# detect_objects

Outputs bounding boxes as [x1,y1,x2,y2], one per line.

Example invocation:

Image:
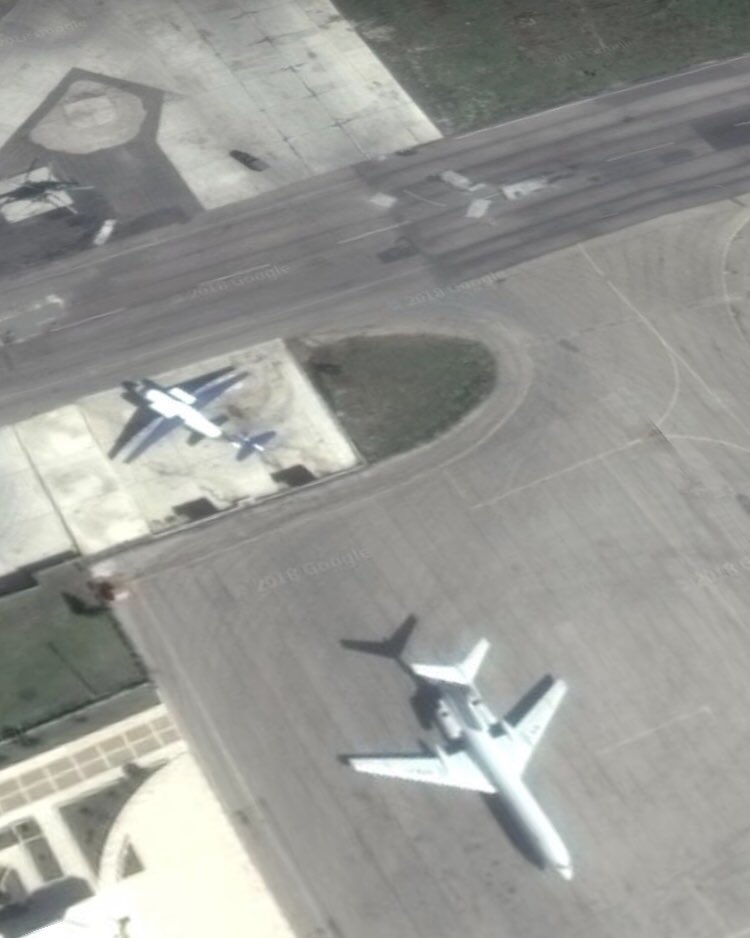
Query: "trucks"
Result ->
[90,215,115,243]
[234,146,270,169]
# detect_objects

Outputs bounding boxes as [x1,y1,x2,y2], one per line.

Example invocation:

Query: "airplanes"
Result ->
[126,371,282,467]
[355,640,575,878]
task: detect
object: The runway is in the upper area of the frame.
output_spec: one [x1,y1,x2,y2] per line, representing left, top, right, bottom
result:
[0,54,750,430]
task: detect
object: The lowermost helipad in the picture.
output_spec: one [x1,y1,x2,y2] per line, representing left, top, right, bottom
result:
[0,167,73,222]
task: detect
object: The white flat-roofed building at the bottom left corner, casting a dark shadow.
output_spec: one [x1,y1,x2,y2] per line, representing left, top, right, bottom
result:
[16,895,117,938]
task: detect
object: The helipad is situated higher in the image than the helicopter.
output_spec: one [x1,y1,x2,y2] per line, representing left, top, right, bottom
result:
[31,80,145,152]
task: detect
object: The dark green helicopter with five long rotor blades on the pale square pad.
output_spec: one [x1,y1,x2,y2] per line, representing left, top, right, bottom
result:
[0,154,92,215]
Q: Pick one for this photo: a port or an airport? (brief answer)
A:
airport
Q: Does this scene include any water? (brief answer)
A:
No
